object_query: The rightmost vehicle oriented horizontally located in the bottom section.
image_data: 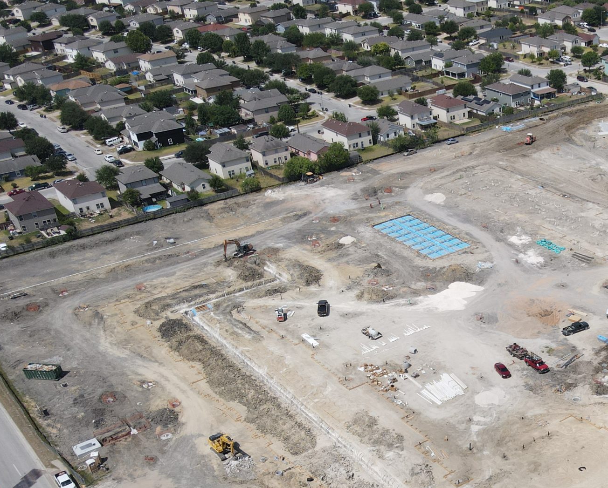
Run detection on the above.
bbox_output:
[563,323,588,335]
